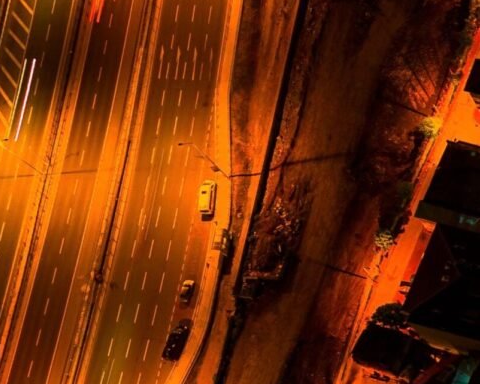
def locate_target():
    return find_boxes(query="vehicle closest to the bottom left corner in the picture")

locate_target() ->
[164,321,187,360]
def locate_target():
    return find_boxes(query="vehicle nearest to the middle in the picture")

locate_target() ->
[199,181,215,217]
